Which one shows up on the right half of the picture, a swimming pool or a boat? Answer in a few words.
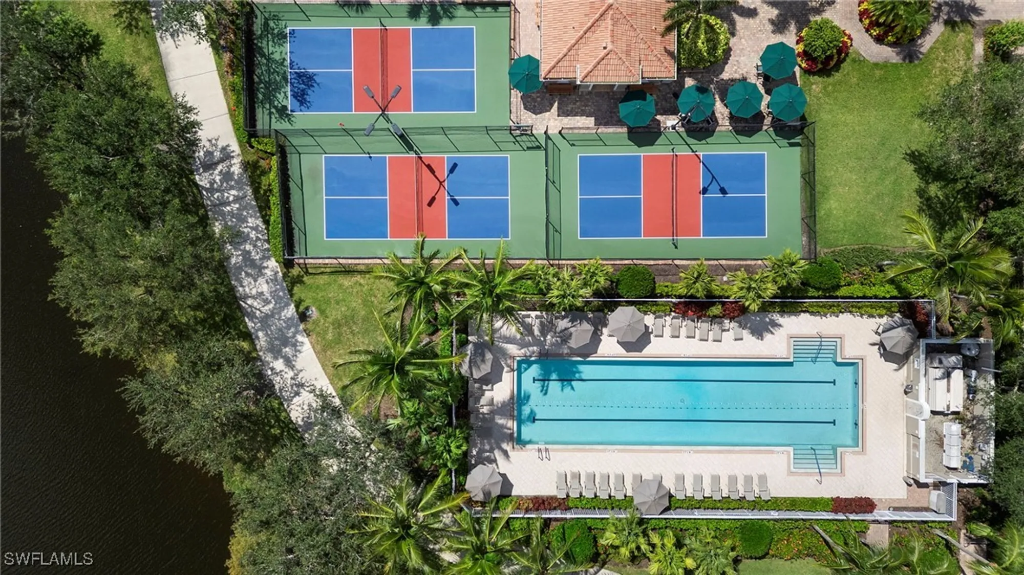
swimming pool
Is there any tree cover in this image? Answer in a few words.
Yes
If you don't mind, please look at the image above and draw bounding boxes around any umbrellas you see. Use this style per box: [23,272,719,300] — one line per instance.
[632,477,668,513]
[768,83,806,121]
[507,56,542,94]
[458,340,495,377]
[559,311,597,349]
[725,82,763,119]
[609,305,645,341]
[759,41,797,79]
[466,464,502,500]
[676,85,714,123]
[619,91,654,127]
[878,315,915,352]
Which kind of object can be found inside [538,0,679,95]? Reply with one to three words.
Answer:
building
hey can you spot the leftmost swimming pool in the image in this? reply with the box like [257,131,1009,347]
[509,333,867,476]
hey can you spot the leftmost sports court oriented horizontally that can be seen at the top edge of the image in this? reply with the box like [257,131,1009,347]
[254,3,510,129]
